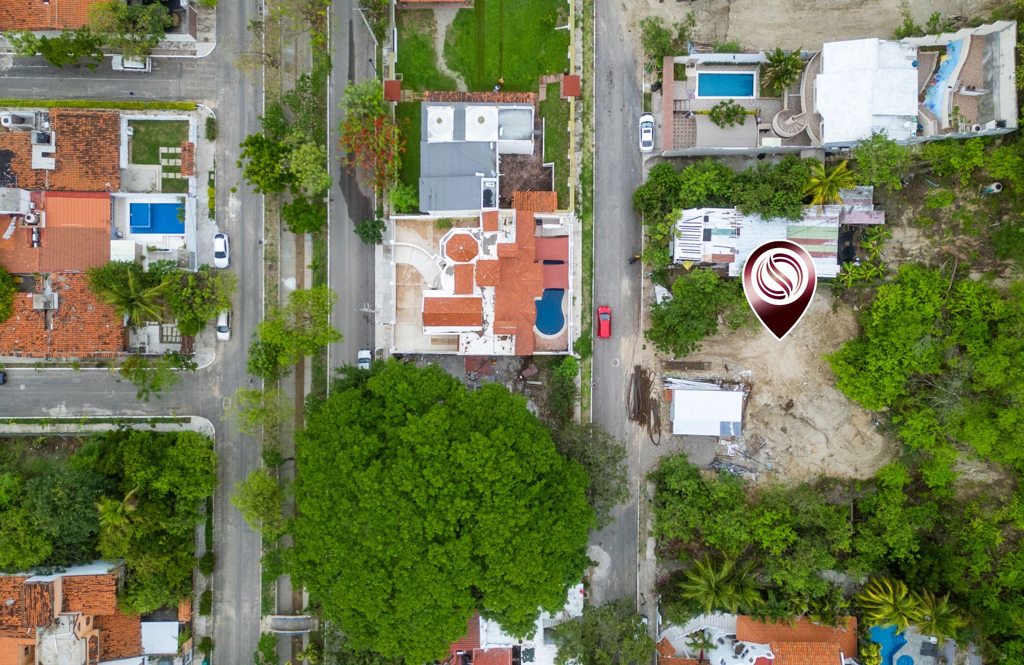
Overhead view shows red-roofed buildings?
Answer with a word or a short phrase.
Yes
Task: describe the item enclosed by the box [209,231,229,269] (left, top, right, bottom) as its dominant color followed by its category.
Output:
white car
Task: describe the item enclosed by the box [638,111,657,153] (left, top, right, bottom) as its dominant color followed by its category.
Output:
white car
